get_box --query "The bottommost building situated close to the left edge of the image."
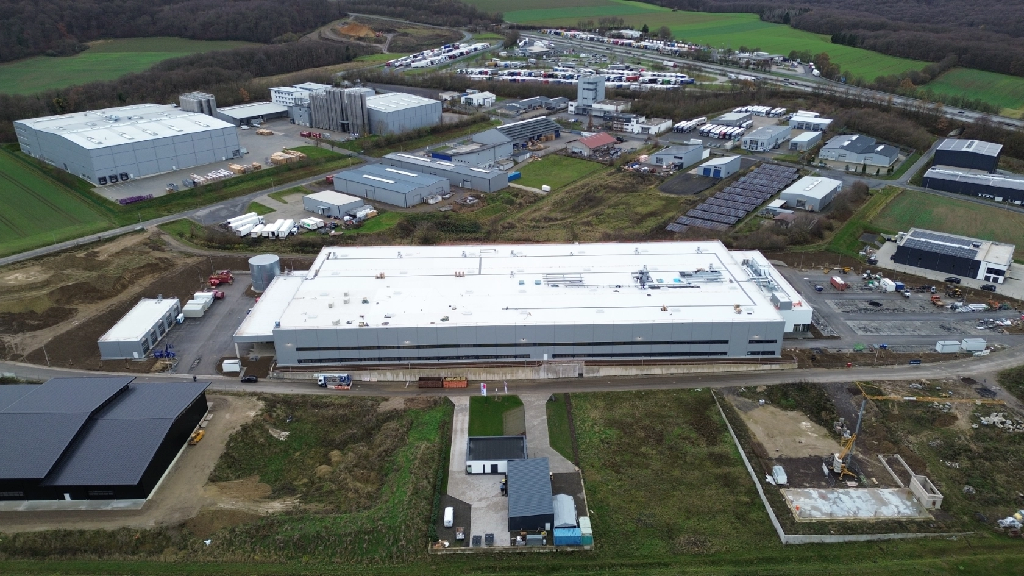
[0,376,212,503]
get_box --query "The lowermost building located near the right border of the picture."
[891,227,1018,284]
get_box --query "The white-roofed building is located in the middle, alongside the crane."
[234,238,813,366]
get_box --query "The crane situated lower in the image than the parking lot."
[827,382,1007,485]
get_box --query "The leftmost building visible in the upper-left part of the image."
[0,109,240,186]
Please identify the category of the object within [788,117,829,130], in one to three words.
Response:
building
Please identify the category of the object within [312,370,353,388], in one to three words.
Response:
vehicle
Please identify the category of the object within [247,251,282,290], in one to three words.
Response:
storage tank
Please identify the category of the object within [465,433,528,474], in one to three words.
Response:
house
